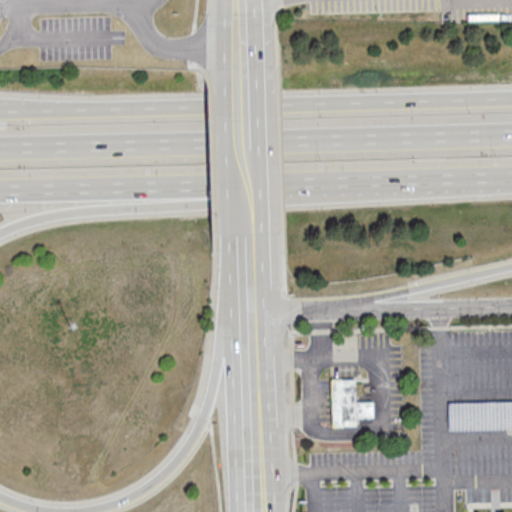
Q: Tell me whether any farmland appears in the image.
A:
No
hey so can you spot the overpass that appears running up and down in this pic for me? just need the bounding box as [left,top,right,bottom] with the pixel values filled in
[207,76,286,234]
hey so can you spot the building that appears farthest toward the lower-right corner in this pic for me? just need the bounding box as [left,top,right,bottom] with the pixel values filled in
[448,402,512,436]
